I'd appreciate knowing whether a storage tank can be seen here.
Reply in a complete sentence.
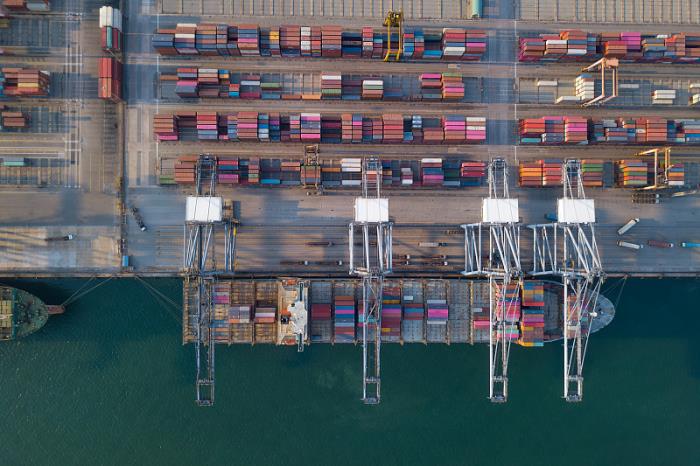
No, no storage tank is visible in the scene.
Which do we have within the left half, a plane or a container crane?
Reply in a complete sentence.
Looking within the left half, you will find a container crane.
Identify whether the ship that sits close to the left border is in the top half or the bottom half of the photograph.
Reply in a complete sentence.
You can find the ship that sits close to the left border in the bottom half.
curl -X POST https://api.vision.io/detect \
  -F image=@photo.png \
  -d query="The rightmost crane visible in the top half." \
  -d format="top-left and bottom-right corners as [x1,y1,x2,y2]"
[632,146,669,191]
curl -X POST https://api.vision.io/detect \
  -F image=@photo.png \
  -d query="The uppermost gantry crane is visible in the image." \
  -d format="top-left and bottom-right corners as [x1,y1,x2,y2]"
[383,8,404,63]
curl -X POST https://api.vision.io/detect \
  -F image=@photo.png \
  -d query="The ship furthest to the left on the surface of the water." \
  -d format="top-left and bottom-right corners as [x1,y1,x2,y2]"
[0,284,66,340]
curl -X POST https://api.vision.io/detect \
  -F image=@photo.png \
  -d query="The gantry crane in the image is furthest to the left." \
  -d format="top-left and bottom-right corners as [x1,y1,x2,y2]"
[181,156,247,404]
